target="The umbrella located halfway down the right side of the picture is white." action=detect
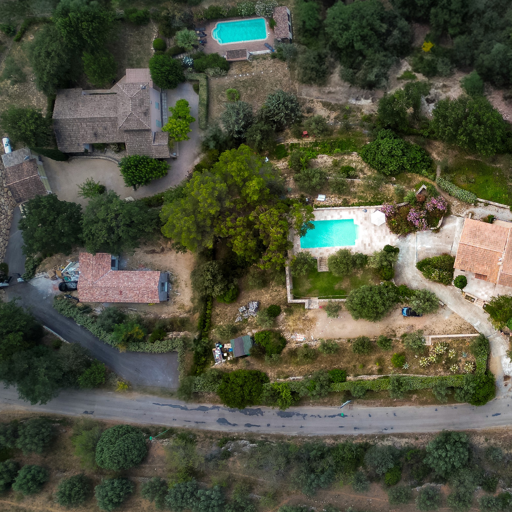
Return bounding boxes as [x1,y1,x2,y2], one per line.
[372,210,386,226]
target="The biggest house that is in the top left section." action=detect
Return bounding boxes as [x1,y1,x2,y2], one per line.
[52,68,172,160]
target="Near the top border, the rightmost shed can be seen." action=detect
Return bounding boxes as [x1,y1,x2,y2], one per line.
[273,5,296,43]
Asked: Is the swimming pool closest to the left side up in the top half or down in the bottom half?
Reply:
top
